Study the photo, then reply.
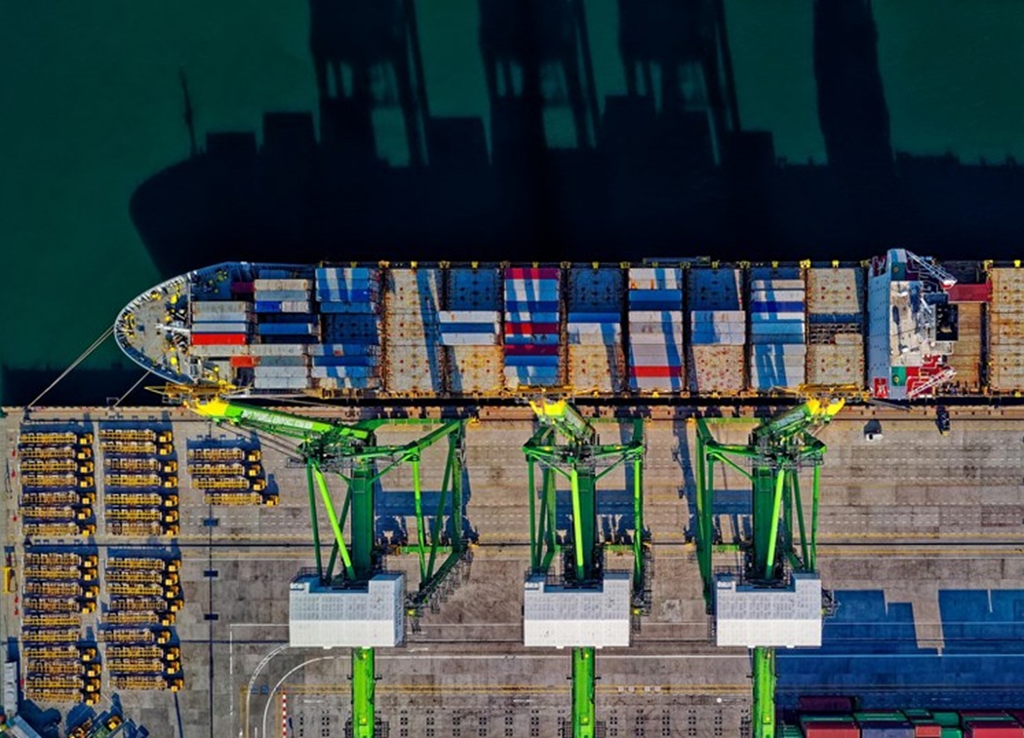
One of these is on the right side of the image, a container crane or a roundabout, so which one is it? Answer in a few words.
container crane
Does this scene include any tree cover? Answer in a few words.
No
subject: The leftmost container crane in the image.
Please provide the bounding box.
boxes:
[148,380,489,738]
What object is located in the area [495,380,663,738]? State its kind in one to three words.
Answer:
container crane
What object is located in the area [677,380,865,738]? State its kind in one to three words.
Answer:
container crane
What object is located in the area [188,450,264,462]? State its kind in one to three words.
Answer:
vehicle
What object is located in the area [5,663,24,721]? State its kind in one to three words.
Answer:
trailer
